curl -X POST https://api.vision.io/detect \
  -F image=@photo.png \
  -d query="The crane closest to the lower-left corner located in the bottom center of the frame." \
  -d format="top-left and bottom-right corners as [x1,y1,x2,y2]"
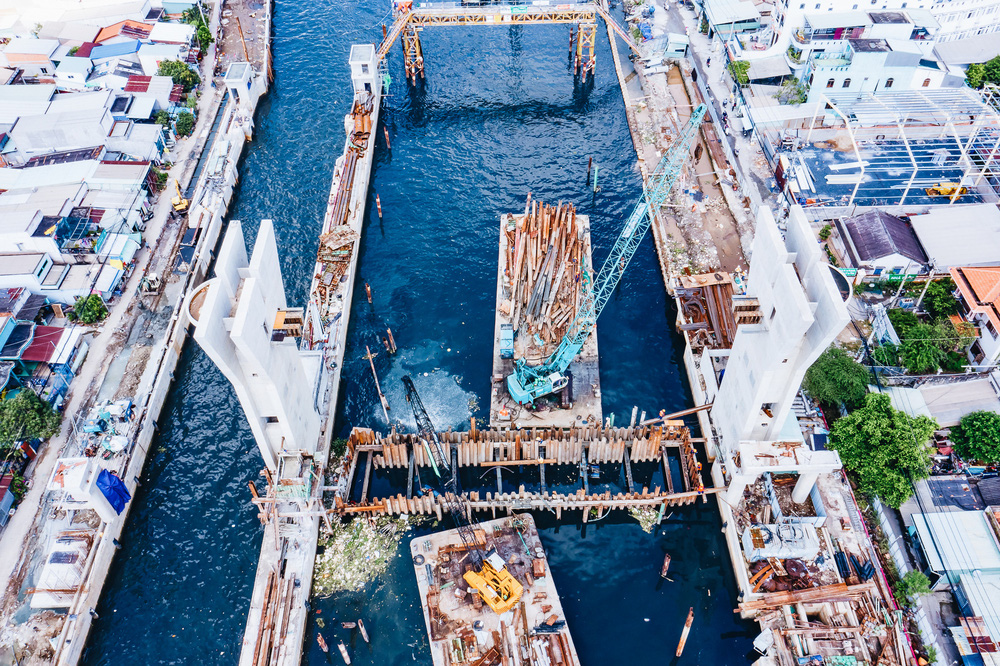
[399,372,521,618]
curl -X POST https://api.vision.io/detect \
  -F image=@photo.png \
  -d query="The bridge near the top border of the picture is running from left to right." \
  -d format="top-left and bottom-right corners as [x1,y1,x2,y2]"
[403,0,603,94]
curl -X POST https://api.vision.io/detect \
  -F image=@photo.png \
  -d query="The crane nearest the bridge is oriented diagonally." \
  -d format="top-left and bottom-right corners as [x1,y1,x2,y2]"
[507,101,707,403]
